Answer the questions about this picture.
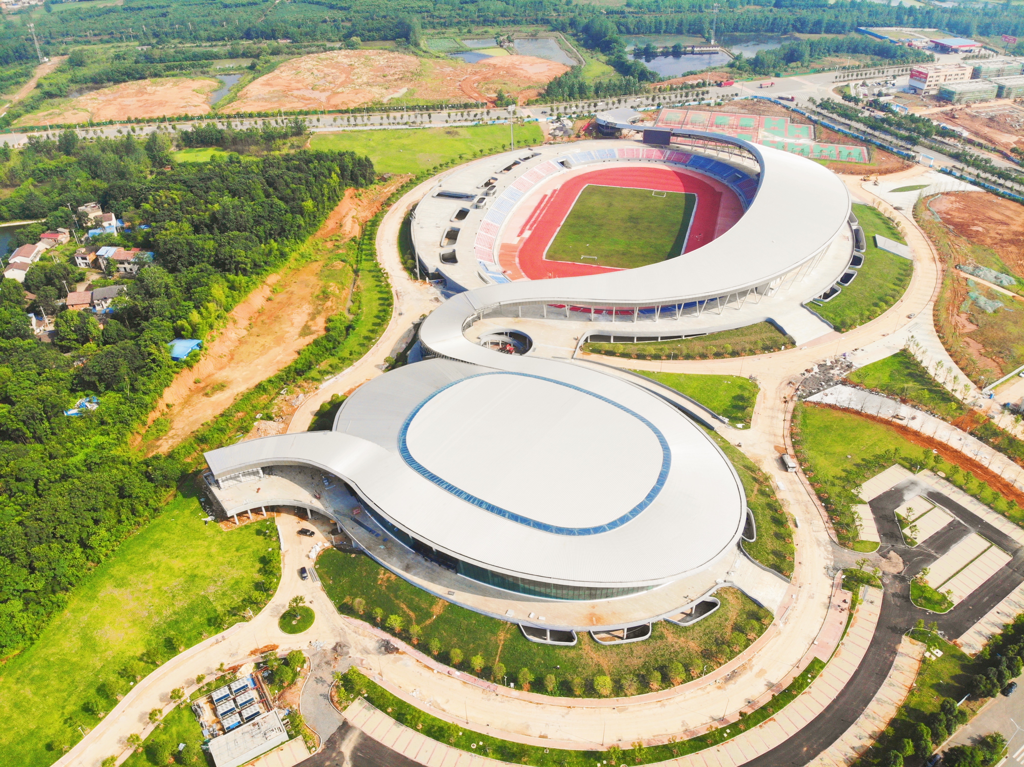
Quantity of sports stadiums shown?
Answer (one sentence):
I count 2 sports stadiums.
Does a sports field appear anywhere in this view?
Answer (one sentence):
Yes, a sports field can be made out from above.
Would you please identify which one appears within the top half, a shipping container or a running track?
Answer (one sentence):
Visible within the top half is a running track.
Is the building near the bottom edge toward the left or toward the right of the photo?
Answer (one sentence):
The building near the bottom edge sits on the left side.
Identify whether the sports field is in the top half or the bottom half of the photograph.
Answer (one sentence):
Seen from above, the sports field lies in the top half of the view.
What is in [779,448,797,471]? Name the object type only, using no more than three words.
vehicle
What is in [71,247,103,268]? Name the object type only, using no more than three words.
house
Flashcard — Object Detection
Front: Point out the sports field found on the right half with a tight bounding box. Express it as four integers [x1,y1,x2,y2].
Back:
[547,185,696,270]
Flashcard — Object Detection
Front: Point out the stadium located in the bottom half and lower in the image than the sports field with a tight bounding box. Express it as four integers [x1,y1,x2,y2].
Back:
[201,292,792,646]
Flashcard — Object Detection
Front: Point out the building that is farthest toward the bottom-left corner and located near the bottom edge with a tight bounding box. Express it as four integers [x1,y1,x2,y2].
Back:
[205,707,296,767]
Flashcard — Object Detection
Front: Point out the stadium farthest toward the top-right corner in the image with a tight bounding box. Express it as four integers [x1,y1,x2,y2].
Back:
[411,108,913,360]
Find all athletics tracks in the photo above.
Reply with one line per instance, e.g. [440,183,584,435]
[519,168,723,279]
